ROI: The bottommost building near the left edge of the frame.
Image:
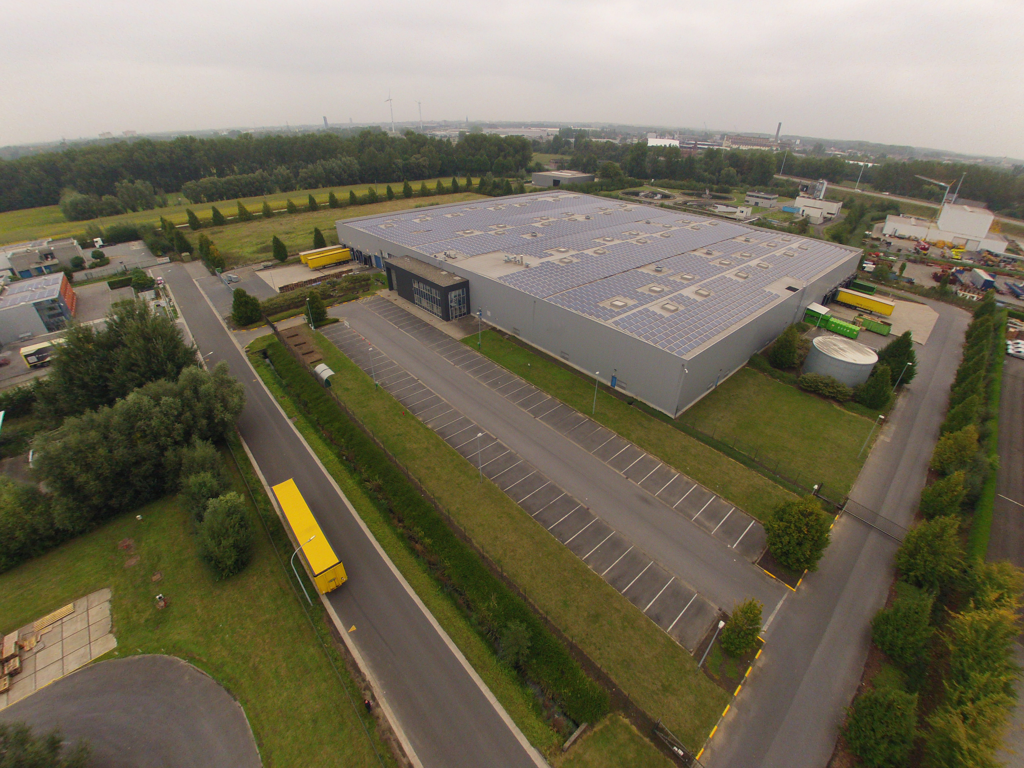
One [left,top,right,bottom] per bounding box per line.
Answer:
[0,271,75,346]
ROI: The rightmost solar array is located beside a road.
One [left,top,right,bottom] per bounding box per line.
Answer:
[348,193,852,358]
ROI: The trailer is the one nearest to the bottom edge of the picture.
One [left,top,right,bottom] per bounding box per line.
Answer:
[264,476,349,597]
